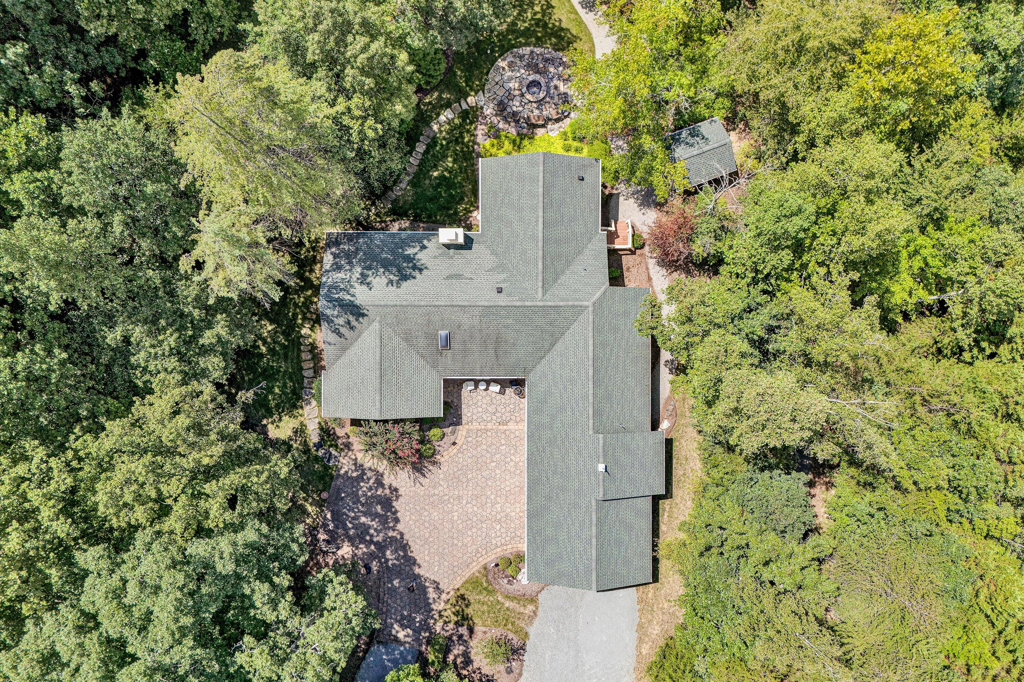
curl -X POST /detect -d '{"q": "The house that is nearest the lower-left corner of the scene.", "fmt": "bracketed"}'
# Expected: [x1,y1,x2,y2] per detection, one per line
[319,152,666,592]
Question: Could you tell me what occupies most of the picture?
trees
